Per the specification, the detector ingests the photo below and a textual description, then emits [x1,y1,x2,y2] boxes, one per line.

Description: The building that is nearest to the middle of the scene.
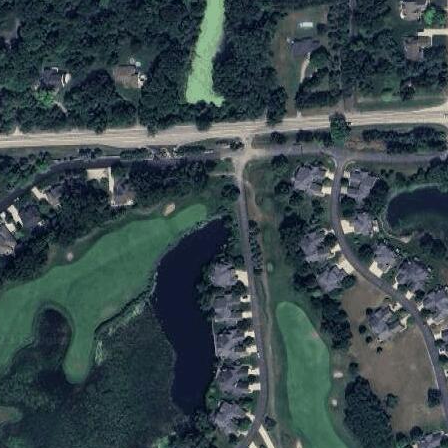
[210,261,237,287]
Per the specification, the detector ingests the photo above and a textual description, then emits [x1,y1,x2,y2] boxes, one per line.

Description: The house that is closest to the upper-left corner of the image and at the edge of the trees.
[39,68,64,89]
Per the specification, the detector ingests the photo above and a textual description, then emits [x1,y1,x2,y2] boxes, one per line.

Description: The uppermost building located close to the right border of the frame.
[403,0,427,22]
